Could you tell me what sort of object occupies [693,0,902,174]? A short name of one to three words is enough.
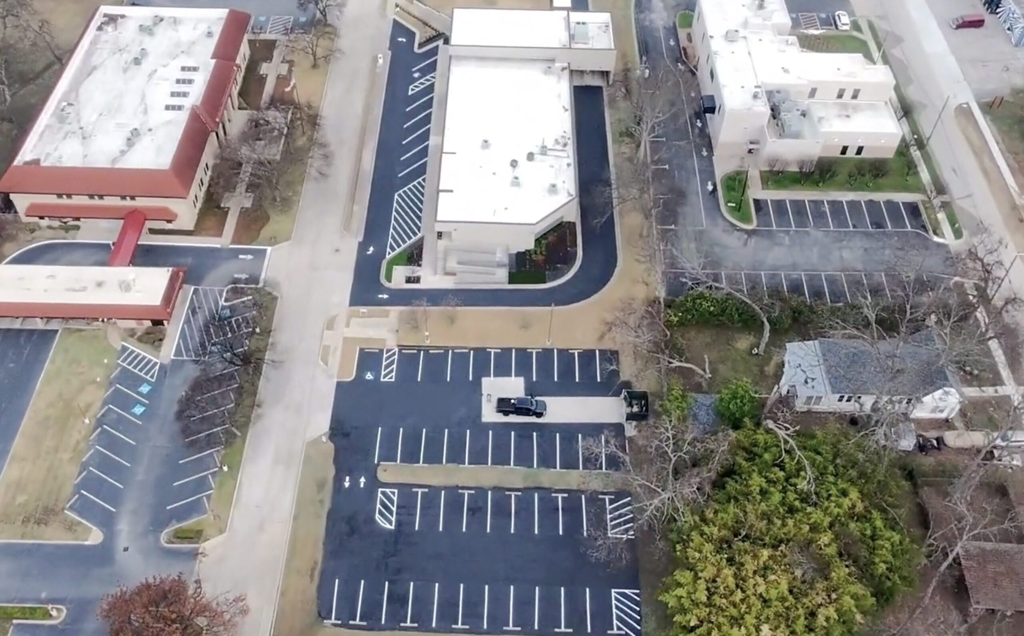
building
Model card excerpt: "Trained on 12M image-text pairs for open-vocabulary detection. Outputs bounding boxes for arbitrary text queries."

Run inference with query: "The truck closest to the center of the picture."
[496,397,547,419]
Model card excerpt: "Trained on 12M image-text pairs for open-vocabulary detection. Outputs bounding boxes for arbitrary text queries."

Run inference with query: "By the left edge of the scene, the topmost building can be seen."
[0,4,249,227]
